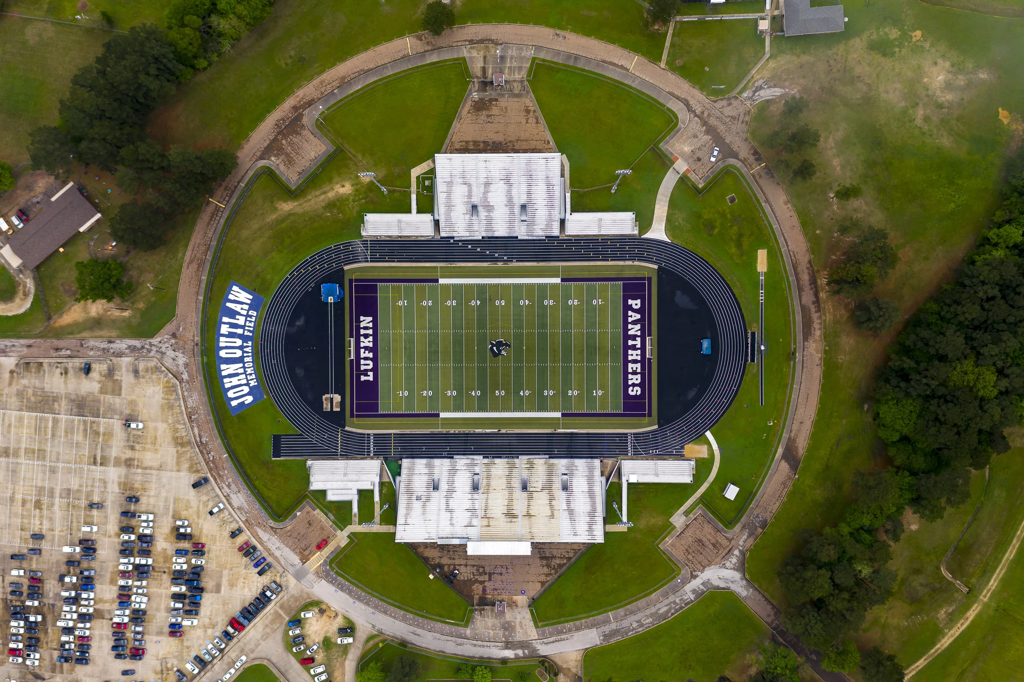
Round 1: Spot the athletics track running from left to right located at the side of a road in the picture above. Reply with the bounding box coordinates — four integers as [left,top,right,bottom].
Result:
[259,236,746,459]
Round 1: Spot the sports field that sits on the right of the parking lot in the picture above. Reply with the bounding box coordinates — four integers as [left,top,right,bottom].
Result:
[343,262,657,433]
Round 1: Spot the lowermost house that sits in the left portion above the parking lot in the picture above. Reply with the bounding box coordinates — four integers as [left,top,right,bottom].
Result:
[0,181,105,270]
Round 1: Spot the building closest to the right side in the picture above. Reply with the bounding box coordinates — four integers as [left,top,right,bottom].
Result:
[782,0,844,38]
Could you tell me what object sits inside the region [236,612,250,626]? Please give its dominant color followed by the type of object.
blue vehicle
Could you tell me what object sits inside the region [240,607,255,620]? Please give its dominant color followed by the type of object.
black vehicle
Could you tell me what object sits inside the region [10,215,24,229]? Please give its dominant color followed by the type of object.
white vehicle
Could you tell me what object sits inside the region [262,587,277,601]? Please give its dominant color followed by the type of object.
white vehicle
